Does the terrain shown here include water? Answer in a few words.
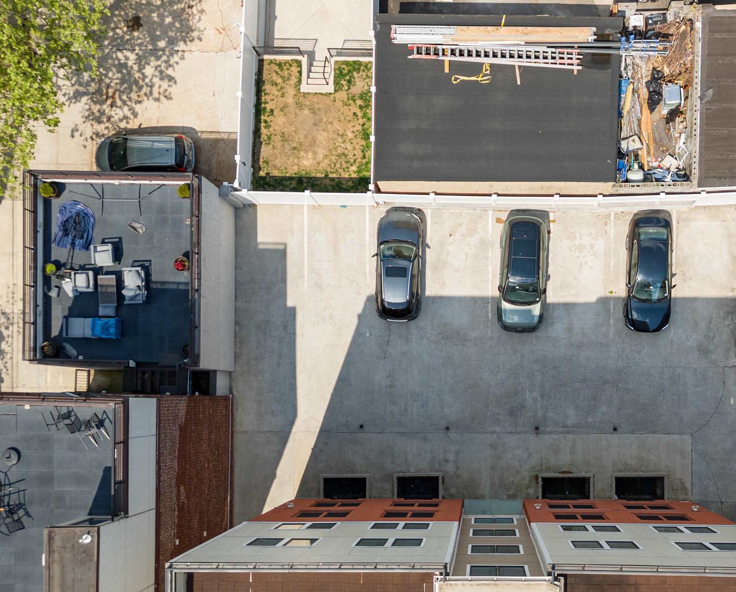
No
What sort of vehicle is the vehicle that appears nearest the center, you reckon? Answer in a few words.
car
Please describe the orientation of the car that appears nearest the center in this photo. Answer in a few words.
from top to bottom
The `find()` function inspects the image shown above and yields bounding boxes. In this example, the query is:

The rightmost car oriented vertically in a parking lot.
[622,214,677,334]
